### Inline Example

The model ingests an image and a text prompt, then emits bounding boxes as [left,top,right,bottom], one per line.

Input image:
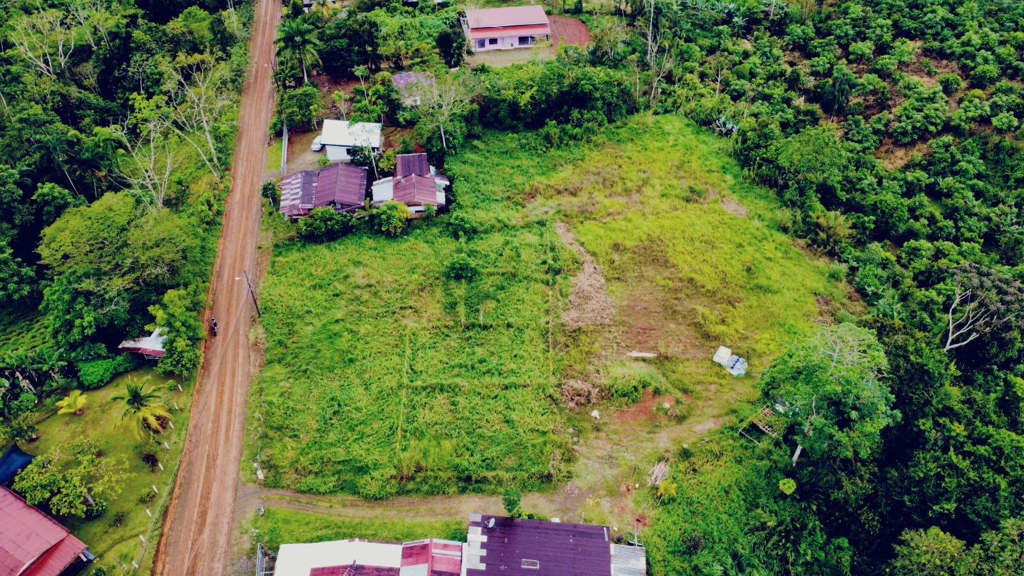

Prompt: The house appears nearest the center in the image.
[369,151,458,226]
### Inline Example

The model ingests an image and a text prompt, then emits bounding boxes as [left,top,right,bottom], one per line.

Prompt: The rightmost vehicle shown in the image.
[307,135,322,152]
